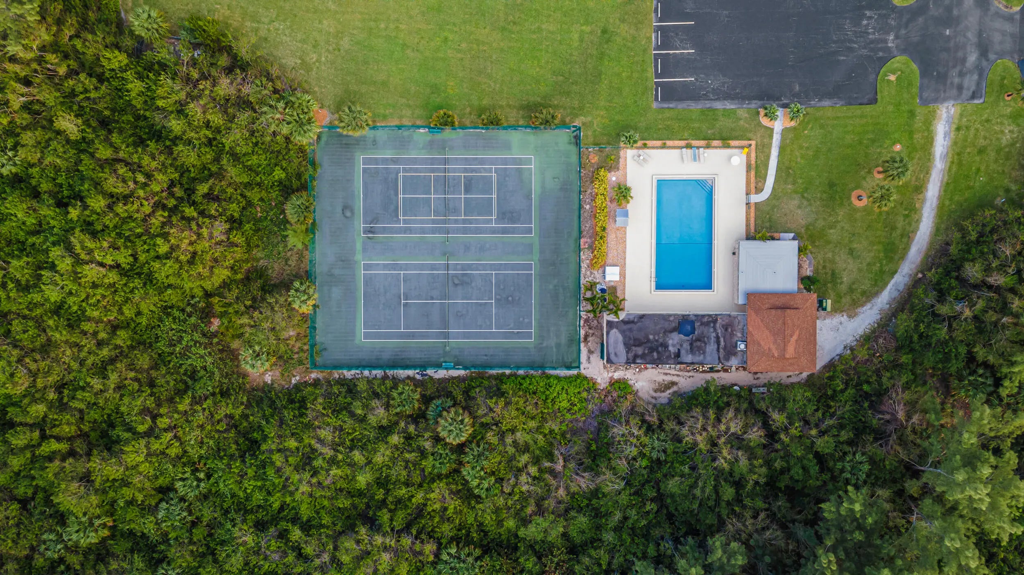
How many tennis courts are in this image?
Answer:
2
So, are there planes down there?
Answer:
No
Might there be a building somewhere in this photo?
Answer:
Yes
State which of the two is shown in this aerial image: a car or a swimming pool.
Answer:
swimming pool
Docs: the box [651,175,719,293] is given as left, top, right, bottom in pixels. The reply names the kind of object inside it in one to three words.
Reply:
swimming pool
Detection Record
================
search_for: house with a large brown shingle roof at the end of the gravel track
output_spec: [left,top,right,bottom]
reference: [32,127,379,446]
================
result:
[741,293,817,373]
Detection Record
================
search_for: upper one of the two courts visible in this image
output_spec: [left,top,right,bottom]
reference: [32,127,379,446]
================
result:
[314,129,579,249]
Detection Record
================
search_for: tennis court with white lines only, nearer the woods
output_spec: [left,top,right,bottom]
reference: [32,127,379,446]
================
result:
[315,249,579,366]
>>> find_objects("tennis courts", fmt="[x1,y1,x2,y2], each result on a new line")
[315,249,579,366]
[314,129,579,249]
